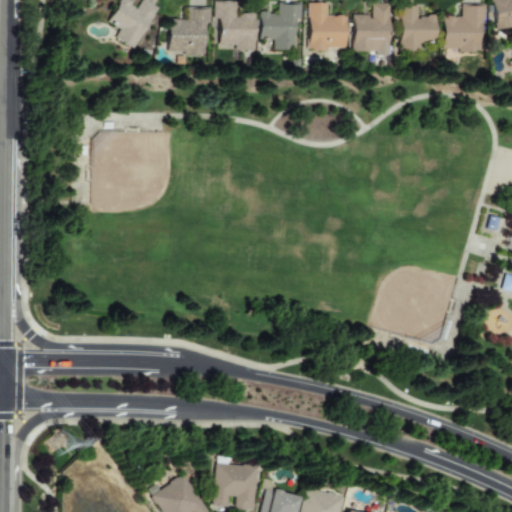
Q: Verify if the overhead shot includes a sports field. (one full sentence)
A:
Yes, there's a sports field here.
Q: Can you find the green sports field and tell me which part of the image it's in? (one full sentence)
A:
The green sports field is in the center part of the image.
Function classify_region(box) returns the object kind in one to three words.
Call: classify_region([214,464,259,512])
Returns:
house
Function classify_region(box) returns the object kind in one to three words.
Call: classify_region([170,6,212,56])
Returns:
house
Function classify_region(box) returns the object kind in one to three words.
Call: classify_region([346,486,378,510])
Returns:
swimming pool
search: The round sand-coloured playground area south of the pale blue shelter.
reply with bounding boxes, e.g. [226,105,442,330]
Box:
[484,308,512,336]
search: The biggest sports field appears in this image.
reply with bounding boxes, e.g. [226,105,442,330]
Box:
[34,92,490,366]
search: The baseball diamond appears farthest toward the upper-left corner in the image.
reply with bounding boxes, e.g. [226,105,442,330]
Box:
[91,130,170,212]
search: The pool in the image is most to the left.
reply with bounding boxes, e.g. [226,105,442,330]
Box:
[87,22,118,43]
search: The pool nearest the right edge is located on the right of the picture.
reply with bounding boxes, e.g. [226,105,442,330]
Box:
[493,50,508,74]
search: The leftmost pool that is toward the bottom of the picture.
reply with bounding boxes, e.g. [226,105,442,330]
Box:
[268,468,298,484]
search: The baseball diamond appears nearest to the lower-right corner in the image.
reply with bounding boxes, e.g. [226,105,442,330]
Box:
[371,266,456,342]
